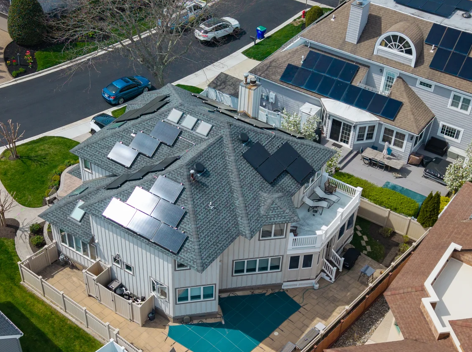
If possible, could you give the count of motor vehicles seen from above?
4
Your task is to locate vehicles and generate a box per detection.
[101,74,153,104]
[196,15,241,42]
[80,115,111,137]
[156,2,206,31]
